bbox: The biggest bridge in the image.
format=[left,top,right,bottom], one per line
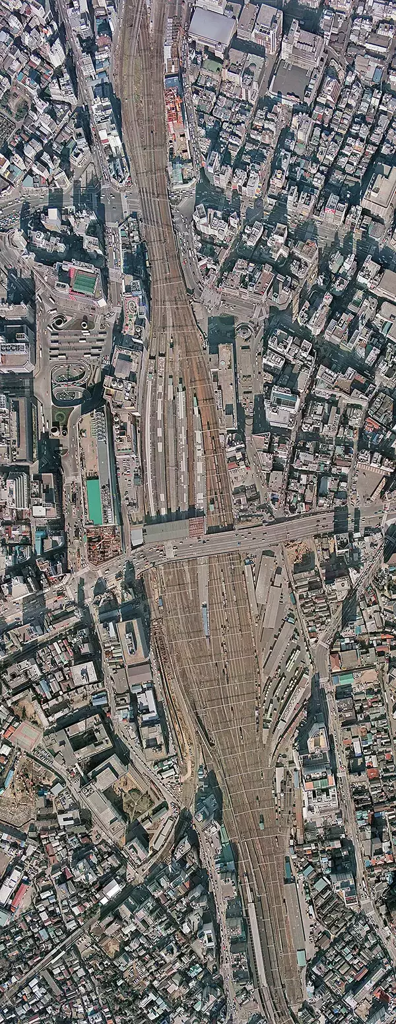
[113,514,333,577]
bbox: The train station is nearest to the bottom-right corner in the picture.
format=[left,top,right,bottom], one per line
[244,873,274,986]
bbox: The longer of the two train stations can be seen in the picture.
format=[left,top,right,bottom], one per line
[130,357,206,545]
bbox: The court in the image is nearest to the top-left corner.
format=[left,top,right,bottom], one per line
[73,270,98,294]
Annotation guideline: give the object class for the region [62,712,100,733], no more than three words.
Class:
building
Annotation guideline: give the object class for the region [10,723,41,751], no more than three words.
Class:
sports court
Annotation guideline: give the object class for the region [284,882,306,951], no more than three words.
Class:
shed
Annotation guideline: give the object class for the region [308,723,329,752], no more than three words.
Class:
building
